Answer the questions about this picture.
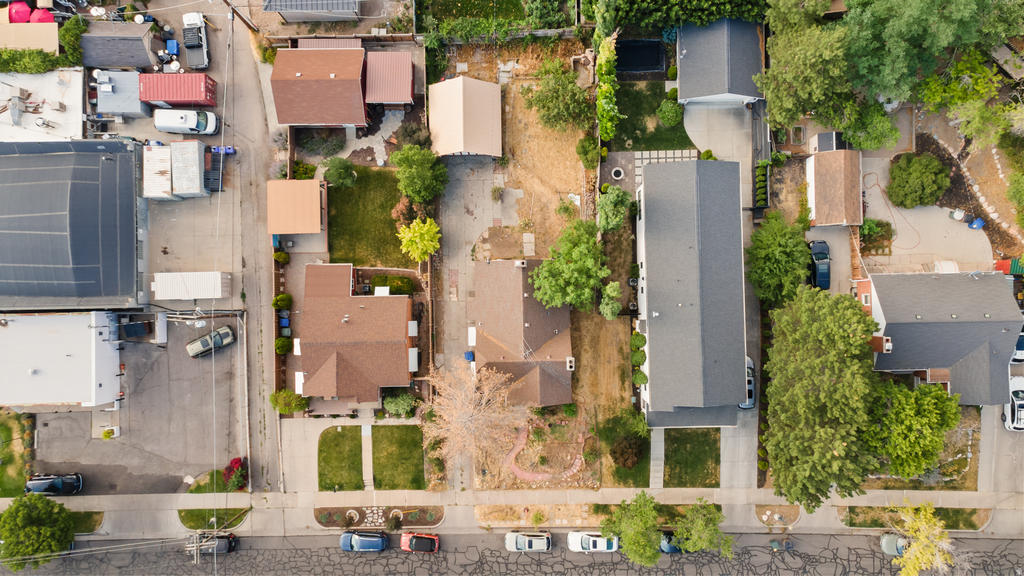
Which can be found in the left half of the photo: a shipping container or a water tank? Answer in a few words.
shipping container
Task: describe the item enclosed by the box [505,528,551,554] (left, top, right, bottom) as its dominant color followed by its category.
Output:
white car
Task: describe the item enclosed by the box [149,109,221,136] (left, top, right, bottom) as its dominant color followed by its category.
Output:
white vehicle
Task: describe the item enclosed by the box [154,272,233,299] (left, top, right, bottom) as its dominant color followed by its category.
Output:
white shipping container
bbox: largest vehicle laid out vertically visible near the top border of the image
[183,13,212,72]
